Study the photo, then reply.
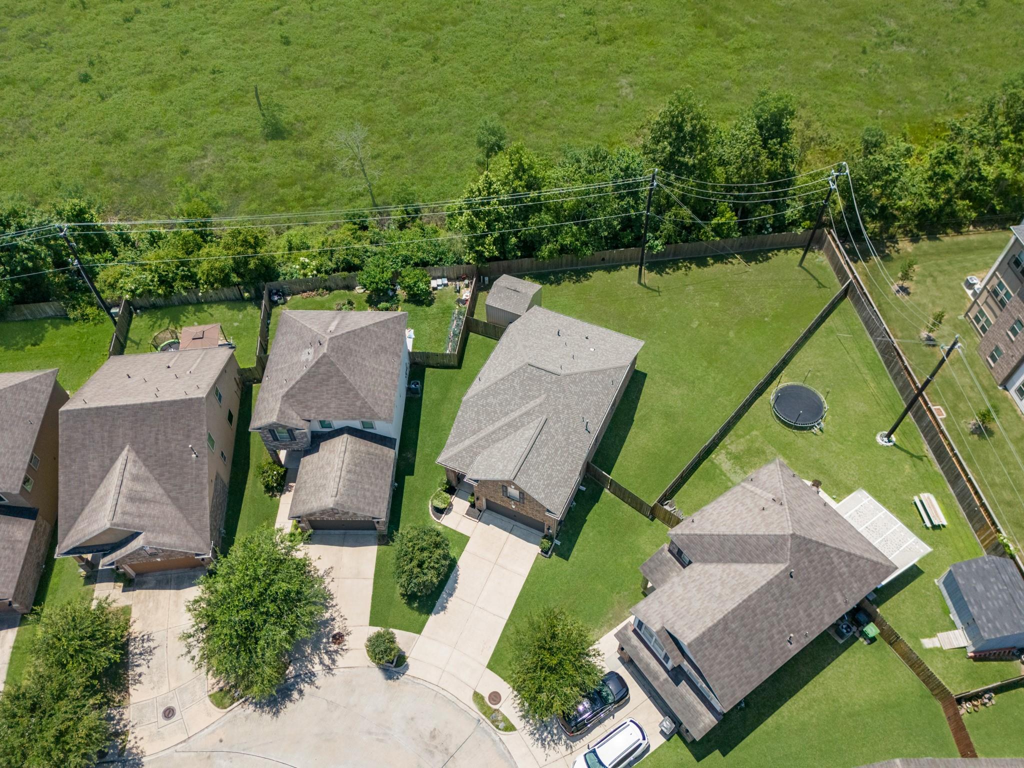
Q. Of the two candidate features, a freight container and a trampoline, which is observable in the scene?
trampoline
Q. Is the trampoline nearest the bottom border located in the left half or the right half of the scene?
right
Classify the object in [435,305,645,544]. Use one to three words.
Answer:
house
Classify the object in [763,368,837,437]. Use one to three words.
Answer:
trampoline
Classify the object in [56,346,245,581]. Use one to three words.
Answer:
house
